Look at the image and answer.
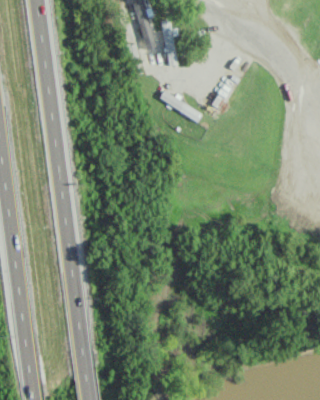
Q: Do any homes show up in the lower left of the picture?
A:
No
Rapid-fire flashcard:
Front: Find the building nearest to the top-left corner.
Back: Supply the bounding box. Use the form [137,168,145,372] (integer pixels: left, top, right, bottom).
[130,3,158,54]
